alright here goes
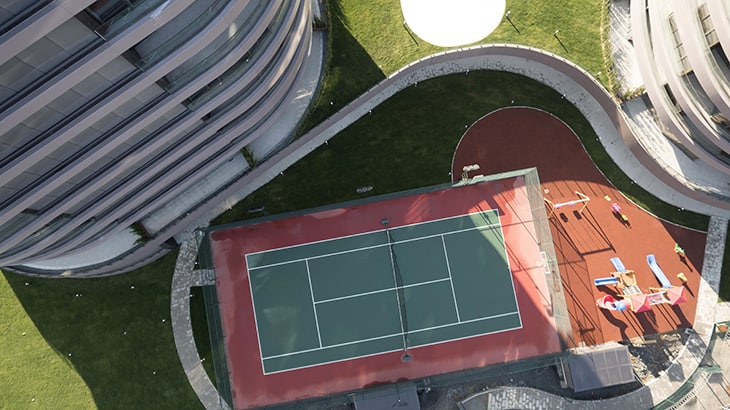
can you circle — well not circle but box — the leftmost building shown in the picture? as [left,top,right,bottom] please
[0,0,318,270]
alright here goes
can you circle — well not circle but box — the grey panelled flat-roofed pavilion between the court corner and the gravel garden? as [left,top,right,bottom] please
[555,343,636,391]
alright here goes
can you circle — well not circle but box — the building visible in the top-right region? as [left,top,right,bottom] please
[624,0,730,175]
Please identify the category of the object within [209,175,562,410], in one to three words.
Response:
tennis court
